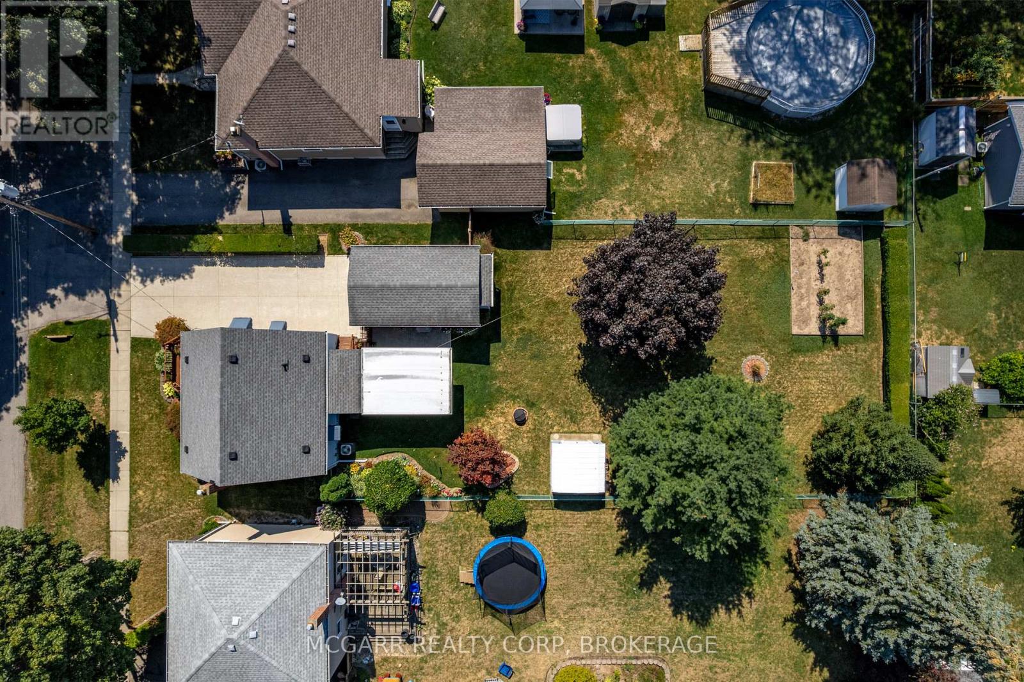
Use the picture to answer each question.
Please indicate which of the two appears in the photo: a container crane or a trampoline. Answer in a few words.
trampoline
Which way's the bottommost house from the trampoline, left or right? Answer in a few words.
to the left of it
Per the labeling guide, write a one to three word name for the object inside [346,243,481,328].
building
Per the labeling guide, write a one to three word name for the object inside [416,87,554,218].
building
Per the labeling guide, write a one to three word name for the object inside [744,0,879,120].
swimming pool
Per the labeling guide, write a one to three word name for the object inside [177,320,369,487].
house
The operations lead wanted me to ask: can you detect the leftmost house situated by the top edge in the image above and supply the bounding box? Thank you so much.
[191,0,423,175]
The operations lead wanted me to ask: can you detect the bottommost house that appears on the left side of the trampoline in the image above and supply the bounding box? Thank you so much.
[163,517,357,682]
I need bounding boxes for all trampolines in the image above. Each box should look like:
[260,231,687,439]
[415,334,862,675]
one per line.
[474,533,547,619]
